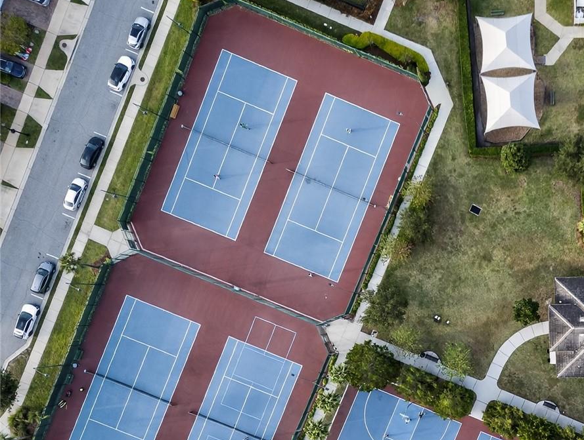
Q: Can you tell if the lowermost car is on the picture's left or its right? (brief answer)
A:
left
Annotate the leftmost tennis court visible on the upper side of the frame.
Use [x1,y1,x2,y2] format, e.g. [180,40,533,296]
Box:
[131,4,328,286]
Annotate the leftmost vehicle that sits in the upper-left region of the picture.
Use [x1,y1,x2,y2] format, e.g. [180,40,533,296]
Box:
[0,57,30,80]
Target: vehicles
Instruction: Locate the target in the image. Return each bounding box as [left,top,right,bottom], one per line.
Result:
[0,57,30,80]
[64,177,90,211]
[13,304,41,338]
[79,136,106,170]
[125,16,152,50]
[108,56,135,92]
[30,261,57,295]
